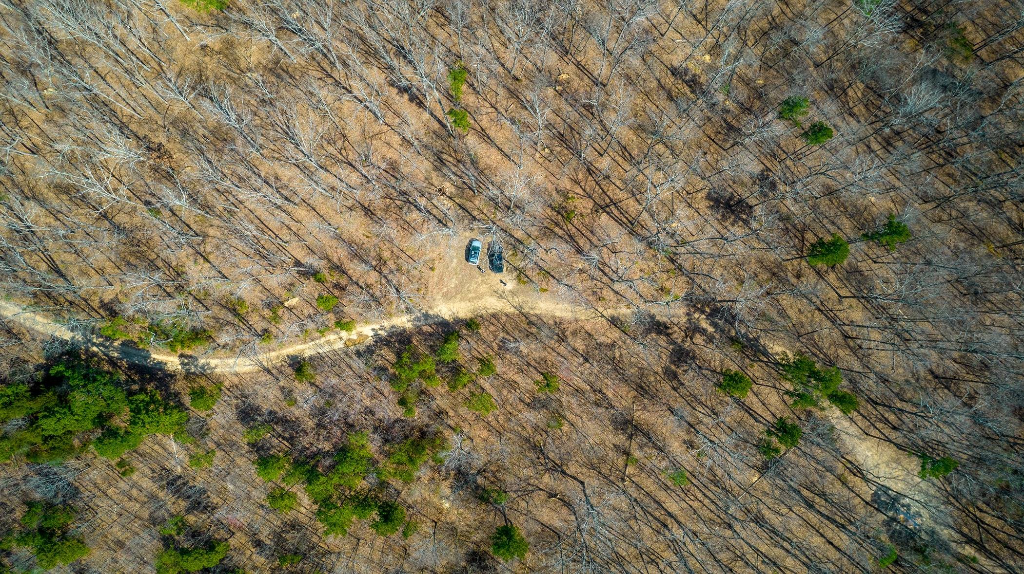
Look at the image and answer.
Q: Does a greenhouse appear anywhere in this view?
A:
No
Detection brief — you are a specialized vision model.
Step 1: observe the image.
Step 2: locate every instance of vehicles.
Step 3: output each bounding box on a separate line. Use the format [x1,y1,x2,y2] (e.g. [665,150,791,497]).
[491,241,505,274]
[468,238,481,266]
